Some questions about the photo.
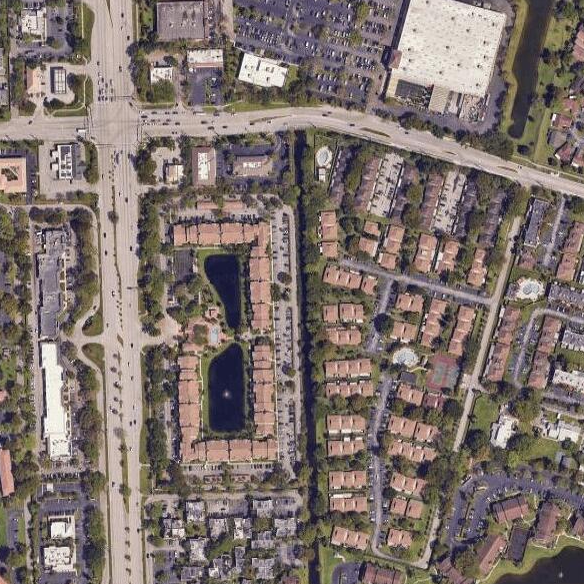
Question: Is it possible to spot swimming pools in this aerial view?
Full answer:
Yes, a swimming pool is visible in the scene.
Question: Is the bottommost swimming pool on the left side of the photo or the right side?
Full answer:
The bottommost swimming pool appears in the right half of the scene.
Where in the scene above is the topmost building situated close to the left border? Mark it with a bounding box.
[21,9,46,39]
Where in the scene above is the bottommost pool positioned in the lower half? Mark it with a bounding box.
[393,347,418,368]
